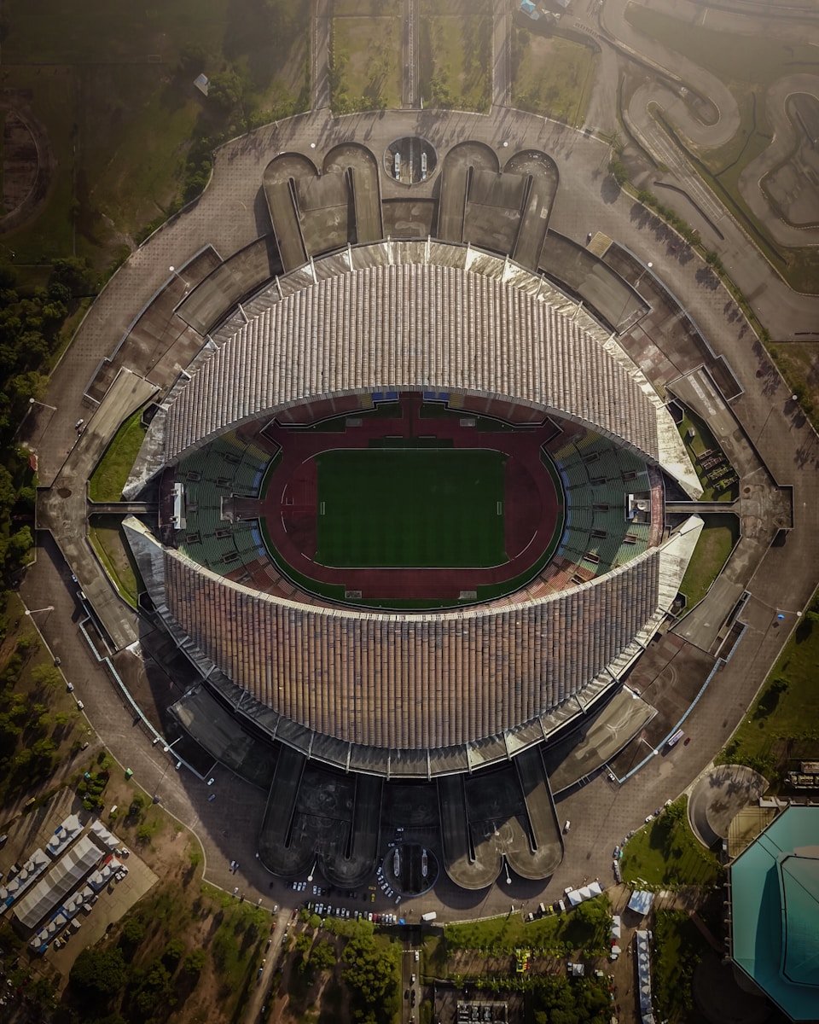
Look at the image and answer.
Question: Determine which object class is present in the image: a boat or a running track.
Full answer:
There is a running track in the scene.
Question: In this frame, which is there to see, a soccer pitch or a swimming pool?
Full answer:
The one in the frame is a soccer pitch.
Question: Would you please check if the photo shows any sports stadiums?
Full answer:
Yes, the photo shows a sports stadium.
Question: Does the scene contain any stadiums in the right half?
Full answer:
Yes, in the right half there is a stadium.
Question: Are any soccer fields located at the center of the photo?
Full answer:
Yes, a soccer field appears at the center of the photo.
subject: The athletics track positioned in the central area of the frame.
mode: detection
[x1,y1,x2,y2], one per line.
[260,401,564,609]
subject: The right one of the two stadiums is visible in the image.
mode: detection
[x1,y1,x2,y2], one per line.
[715,792,819,1022]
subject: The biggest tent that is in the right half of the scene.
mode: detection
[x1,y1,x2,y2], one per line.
[626,890,655,915]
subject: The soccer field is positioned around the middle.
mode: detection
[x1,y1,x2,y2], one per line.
[318,449,504,567]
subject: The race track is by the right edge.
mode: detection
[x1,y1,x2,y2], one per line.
[599,0,819,343]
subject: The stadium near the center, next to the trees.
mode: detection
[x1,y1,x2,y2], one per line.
[122,237,704,780]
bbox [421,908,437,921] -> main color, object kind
white vehicle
